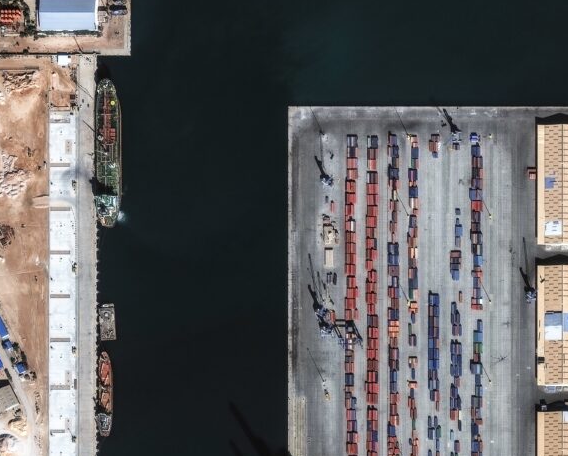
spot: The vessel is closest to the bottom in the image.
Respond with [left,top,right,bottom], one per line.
[98,351,114,437]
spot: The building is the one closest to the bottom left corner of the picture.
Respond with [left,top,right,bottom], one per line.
[0,383,23,412]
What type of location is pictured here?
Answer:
port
